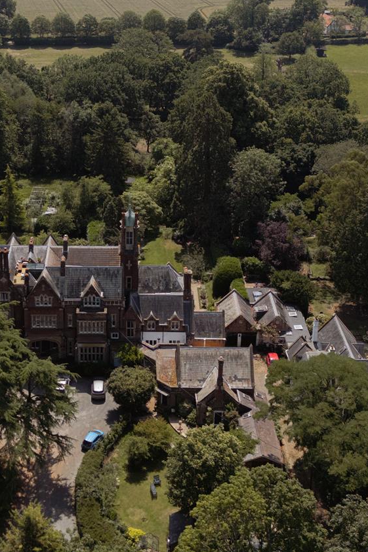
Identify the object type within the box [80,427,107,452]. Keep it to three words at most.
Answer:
car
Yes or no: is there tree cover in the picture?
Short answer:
Yes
